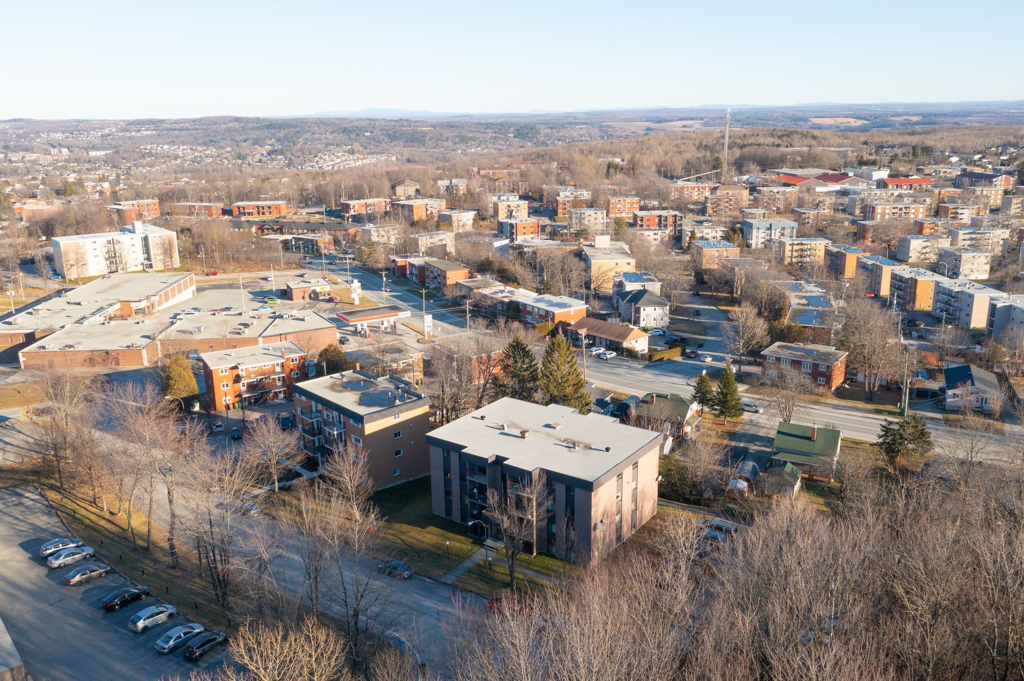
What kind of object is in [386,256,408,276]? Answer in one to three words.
building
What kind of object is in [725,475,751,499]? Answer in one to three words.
shed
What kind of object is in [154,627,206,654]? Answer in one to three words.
car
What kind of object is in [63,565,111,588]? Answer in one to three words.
car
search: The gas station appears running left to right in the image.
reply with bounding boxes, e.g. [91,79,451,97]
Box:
[336,306,410,338]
